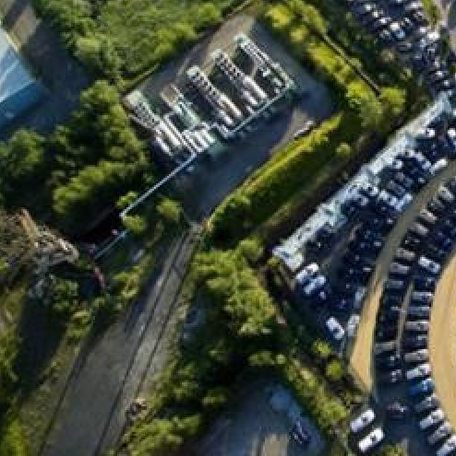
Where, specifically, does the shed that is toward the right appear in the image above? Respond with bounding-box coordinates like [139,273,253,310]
[272,89,447,256]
